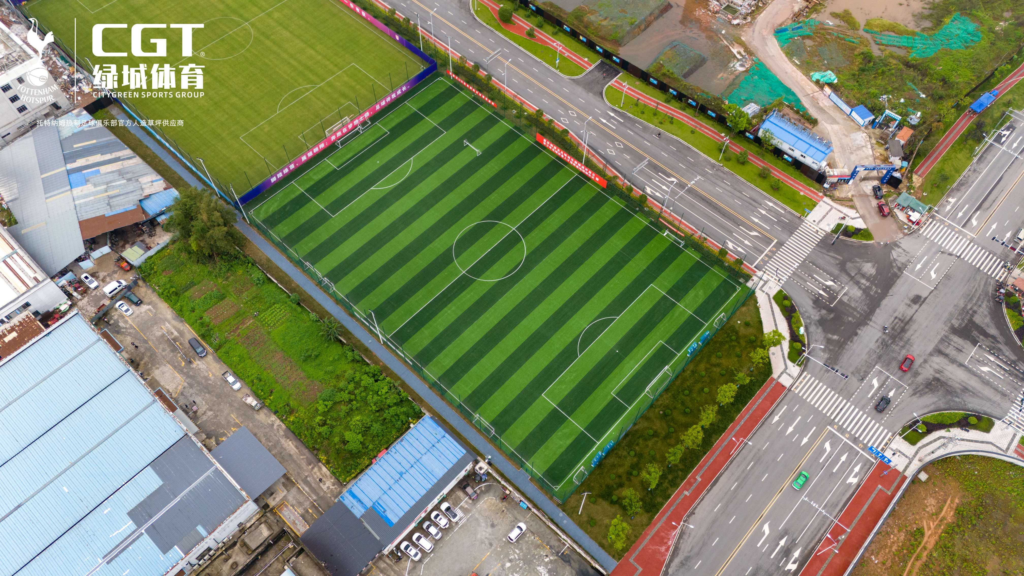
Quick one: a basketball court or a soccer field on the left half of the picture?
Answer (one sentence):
Visible on the left half of the picture is a soccer field.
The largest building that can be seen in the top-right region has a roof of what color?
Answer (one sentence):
The color of the roof on the largest building that can be seen in the top-right region is blue.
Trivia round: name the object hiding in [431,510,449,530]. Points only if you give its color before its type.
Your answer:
white car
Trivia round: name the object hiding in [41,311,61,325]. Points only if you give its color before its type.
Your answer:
red vehicle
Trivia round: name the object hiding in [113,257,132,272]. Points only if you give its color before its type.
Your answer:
red vehicle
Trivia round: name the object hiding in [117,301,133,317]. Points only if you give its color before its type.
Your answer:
white car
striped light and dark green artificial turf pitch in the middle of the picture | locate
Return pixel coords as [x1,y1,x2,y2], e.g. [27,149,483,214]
[237,67,754,502]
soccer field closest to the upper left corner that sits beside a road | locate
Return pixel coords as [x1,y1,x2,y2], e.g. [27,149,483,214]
[17,0,430,204]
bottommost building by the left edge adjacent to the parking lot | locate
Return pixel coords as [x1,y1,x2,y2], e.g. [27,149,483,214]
[0,308,255,576]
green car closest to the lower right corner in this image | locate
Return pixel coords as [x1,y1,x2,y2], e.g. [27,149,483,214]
[792,471,809,492]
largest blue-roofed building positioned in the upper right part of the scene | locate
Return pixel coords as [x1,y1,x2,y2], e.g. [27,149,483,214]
[758,110,833,169]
